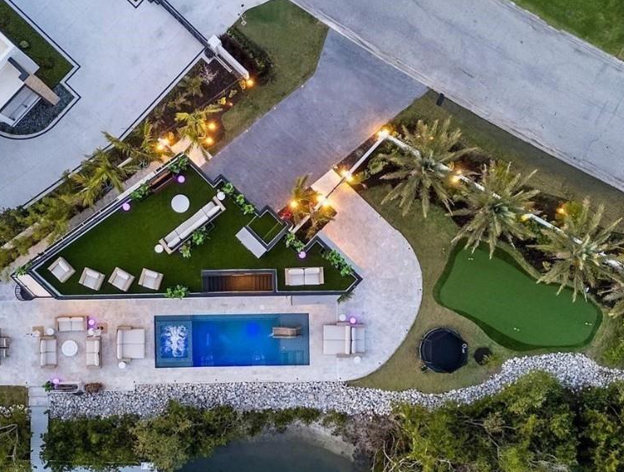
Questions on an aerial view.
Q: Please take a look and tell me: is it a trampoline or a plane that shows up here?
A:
trampoline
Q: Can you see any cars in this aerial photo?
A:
No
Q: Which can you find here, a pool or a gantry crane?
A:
pool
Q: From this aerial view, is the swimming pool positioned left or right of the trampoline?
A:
to the left of it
